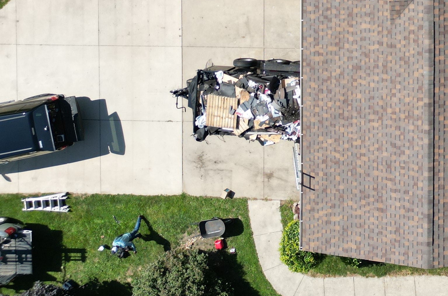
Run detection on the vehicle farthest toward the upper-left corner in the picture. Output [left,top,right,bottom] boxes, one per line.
[0,93,84,163]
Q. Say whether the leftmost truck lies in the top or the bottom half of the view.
bottom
